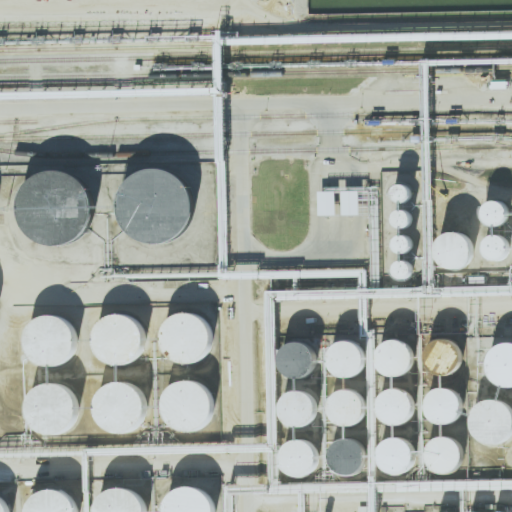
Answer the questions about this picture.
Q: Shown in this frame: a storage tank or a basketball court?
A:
storage tank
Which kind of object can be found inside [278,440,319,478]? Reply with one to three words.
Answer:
storage tank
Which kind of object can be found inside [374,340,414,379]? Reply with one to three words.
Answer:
storage tank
